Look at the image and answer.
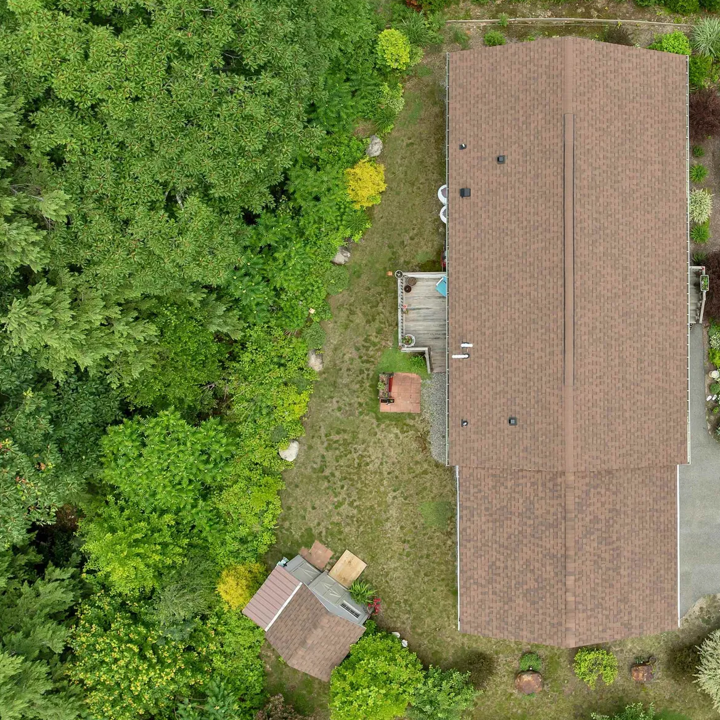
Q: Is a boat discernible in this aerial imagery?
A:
No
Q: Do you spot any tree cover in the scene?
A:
Yes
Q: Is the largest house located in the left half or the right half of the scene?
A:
right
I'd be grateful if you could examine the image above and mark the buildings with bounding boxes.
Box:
[447,35,690,646]
[243,556,376,680]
